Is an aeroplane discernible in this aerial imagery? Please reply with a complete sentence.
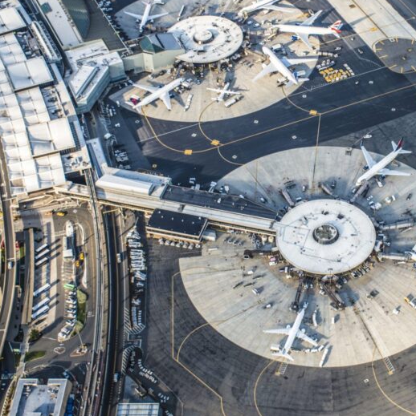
Yes, an aeroplane can be made out from above.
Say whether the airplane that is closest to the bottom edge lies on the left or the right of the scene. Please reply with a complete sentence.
It is on the right.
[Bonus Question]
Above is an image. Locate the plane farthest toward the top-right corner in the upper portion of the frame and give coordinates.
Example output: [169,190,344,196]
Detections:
[274,11,341,51]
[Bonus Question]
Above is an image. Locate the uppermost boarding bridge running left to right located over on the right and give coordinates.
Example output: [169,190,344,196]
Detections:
[243,26,274,38]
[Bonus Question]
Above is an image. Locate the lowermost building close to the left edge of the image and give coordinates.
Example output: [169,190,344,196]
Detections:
[12,380,70,416]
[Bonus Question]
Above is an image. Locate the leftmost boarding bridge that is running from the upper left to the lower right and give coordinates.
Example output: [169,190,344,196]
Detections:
[278,185,298,209]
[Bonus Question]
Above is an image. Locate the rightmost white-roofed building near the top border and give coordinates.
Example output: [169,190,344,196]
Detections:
[169,17,245,69]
